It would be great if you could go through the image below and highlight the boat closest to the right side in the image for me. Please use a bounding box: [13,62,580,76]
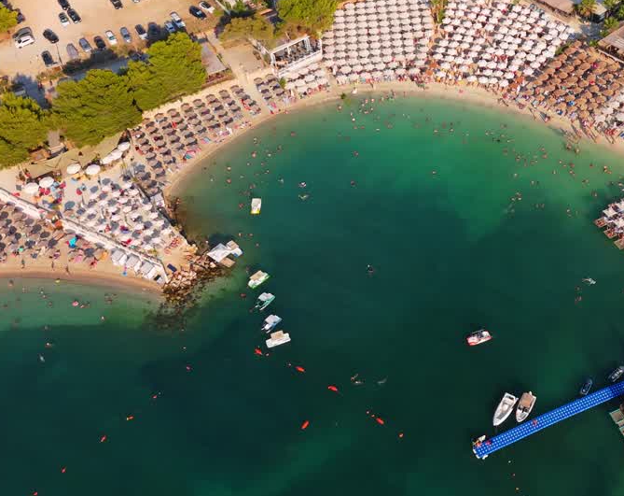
[607,366,623,383]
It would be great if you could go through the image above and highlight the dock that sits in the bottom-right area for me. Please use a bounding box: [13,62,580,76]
[467,383,624,459]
